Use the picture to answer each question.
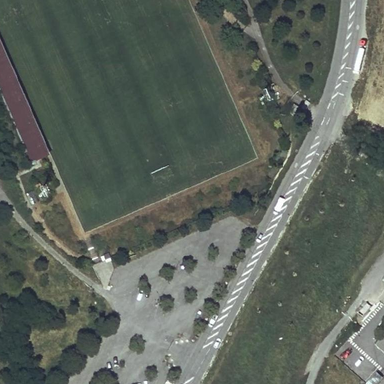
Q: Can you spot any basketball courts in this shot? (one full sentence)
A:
No, no basketball court is visible in the scene.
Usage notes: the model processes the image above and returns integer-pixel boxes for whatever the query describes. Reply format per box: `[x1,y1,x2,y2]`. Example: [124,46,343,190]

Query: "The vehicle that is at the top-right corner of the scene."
[354,40,367,72]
